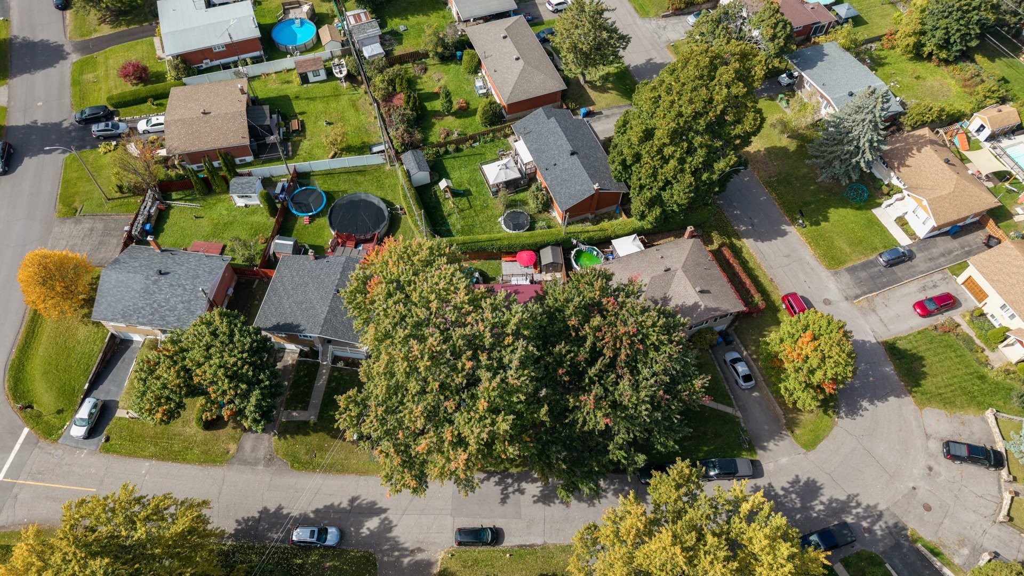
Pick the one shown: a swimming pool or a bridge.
swimming pool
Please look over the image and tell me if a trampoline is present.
Yes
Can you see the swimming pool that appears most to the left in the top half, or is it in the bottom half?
top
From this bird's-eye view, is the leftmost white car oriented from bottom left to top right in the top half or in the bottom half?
bottom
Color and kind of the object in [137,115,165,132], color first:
white car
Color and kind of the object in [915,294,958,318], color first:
red car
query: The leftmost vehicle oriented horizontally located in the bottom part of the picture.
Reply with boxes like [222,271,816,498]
[287,522,342,547]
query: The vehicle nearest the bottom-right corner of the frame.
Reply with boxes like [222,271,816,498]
[944,440,1005,470]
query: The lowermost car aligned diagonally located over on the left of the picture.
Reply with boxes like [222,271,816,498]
[69,395,107,439]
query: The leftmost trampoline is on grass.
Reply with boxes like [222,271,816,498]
[284,178,328,221]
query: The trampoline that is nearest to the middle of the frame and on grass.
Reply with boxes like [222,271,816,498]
[502,202,530,232]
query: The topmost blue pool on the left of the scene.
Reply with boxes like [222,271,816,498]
[269,18,320,55]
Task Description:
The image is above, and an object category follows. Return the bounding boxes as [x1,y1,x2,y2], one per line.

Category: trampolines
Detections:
[284,178,328,221]
[502,202,530,232]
